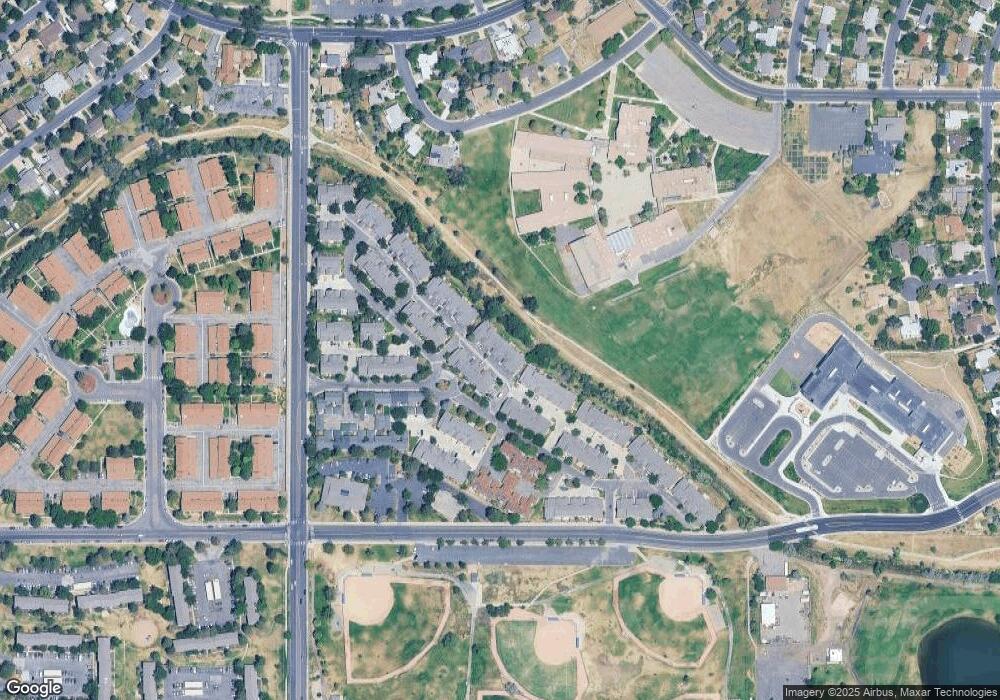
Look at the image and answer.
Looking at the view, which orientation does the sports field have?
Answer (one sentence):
The sports field is oriented at an angle.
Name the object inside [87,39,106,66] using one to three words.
house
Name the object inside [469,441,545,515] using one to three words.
building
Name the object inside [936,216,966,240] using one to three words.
house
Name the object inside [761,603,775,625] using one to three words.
shed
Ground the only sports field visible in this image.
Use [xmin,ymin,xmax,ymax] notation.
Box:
[446,128,782,438]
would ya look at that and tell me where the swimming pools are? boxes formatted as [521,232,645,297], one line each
[121,307,140,338]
